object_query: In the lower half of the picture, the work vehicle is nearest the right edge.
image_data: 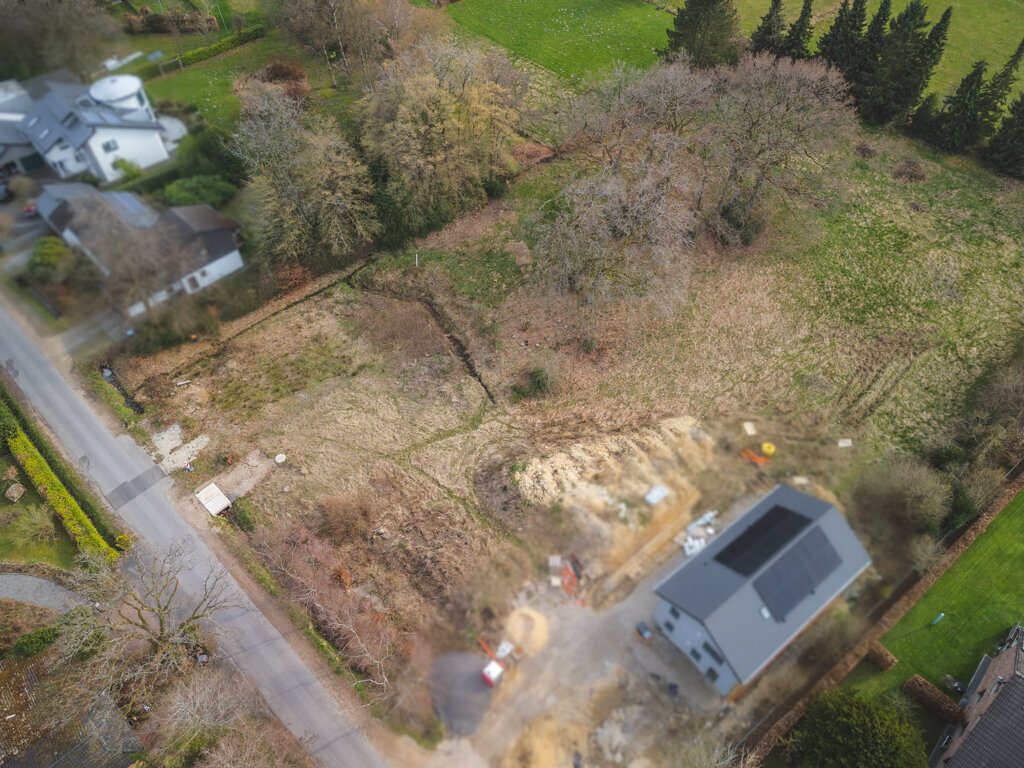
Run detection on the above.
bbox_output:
[462,642,510,695]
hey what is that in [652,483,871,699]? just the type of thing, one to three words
house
